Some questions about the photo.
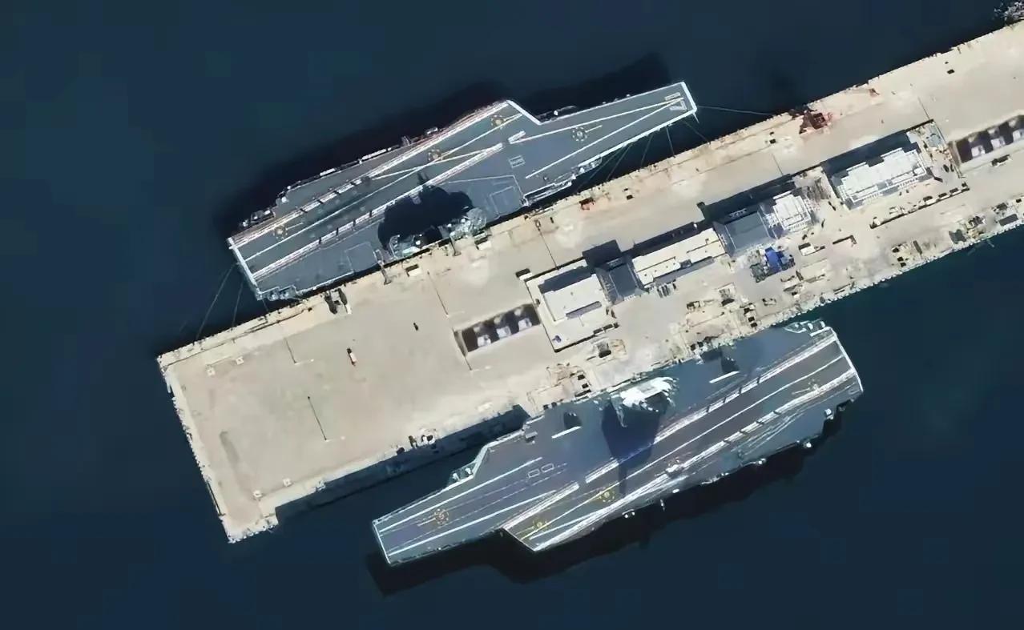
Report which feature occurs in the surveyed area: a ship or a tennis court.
ship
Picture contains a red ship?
No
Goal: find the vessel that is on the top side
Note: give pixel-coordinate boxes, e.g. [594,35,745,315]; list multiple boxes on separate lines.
[230,82,699,300]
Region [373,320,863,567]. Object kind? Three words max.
ship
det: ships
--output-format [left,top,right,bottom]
[373,320,863,567]
[230,82,699,300]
